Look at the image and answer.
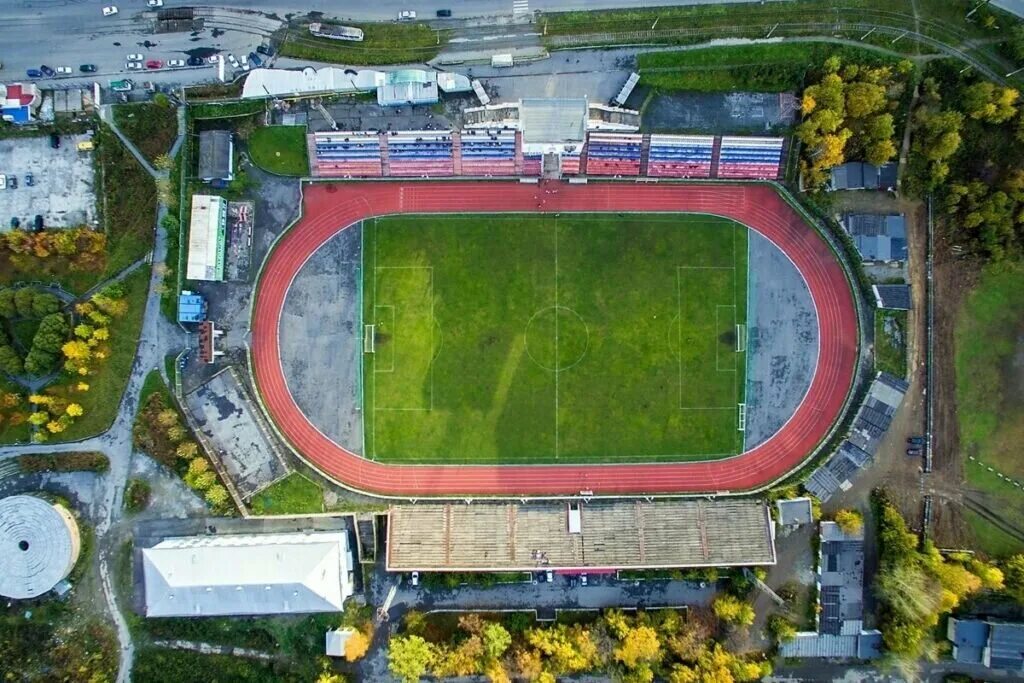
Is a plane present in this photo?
No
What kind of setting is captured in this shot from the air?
sports ground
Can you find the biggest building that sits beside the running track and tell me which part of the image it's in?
bottom left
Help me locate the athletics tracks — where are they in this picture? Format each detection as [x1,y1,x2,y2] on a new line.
[252,180,858,495]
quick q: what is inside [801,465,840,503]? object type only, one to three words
shed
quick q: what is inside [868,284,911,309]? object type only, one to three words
building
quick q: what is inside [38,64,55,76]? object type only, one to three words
vehicle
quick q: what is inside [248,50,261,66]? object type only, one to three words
vehicle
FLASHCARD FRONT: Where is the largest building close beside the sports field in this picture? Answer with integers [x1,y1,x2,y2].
[142,525,359,617]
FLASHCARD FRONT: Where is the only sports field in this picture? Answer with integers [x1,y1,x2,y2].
[362,212,747,465]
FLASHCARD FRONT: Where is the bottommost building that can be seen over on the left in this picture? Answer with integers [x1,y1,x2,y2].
[326,625,354,658]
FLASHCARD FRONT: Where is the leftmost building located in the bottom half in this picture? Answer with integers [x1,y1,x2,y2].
[0,493,81,599]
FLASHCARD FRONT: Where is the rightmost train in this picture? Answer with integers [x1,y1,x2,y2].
[307,20,360,39]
